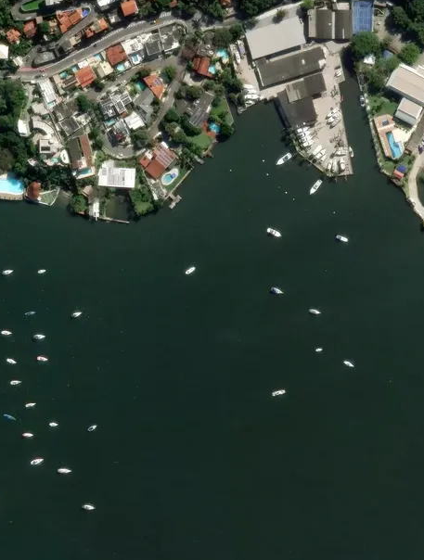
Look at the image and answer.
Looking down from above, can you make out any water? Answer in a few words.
Yes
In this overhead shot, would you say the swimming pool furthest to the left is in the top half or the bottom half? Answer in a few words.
top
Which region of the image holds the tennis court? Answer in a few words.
top right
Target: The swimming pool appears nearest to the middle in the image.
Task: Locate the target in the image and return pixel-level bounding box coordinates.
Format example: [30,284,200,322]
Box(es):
[163,169,177,186]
